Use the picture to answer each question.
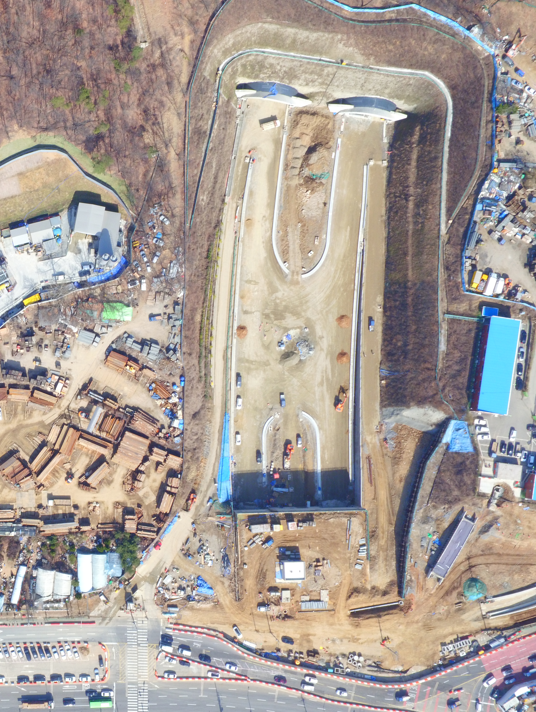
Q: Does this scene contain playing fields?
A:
No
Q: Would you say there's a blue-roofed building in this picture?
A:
Yes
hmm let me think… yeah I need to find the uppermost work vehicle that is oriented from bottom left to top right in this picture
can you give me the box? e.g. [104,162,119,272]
[506,41,524,57]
